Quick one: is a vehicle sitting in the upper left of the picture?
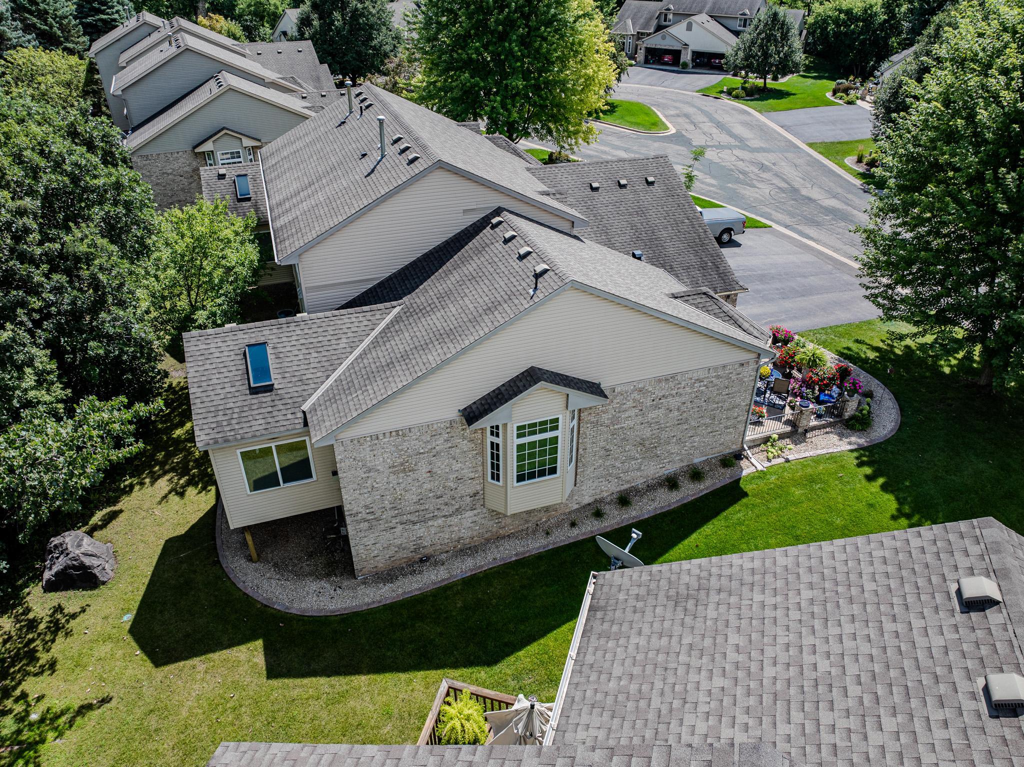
No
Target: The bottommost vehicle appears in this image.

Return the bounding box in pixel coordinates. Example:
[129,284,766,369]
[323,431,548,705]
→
[696,204,748,245]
